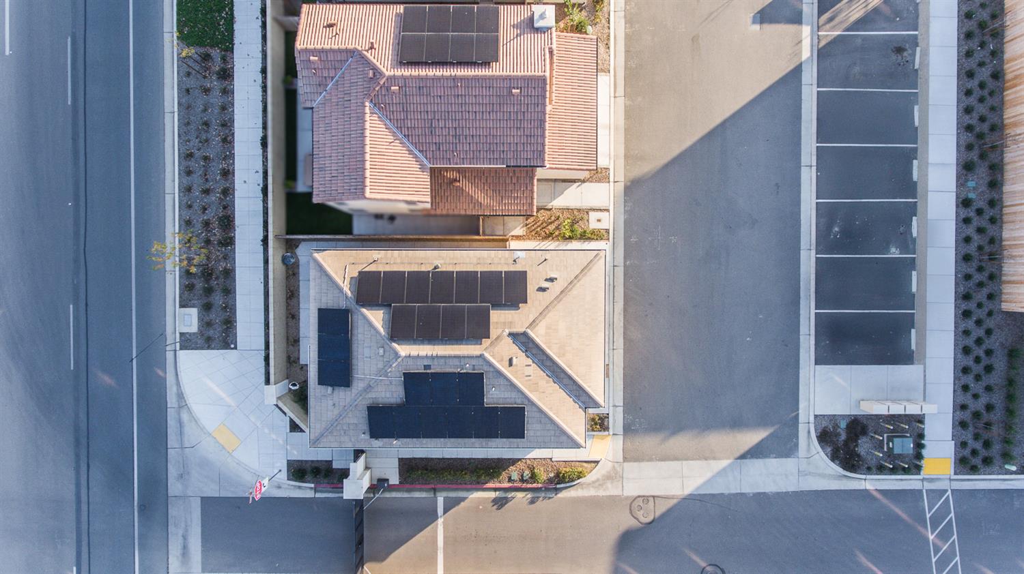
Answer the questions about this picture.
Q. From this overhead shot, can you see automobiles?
No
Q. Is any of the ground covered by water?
No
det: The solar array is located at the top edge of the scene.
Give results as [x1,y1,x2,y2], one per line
[398,6,500,62]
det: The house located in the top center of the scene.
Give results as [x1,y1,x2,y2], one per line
[289,0,600,217]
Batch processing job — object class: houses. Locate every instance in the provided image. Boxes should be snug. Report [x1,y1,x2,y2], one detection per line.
[289,0,600,217]
[307,246,609,451]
